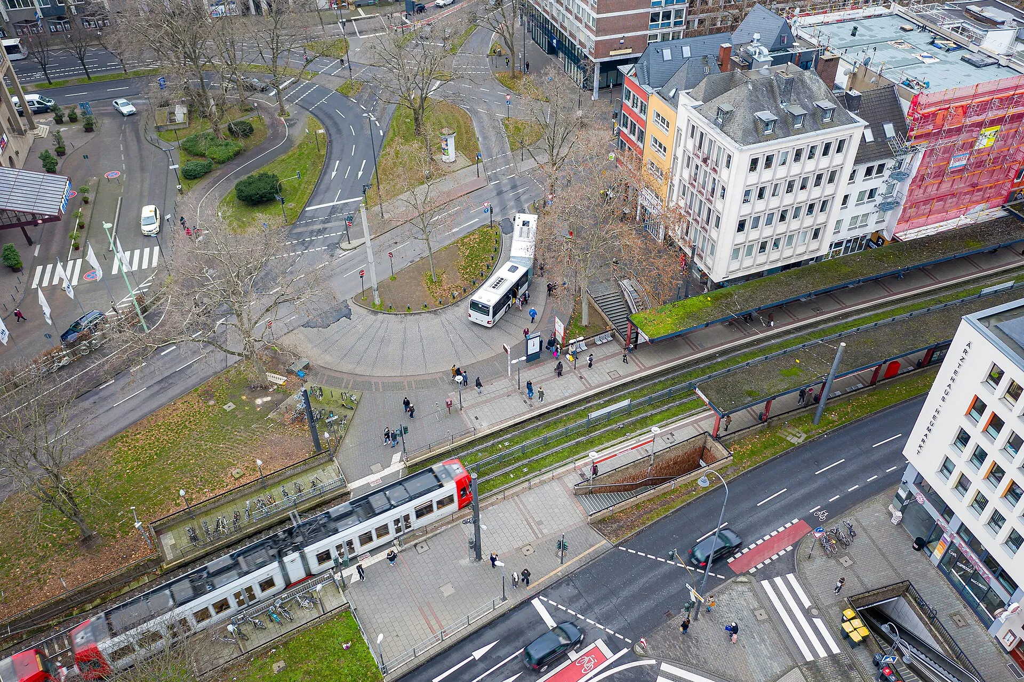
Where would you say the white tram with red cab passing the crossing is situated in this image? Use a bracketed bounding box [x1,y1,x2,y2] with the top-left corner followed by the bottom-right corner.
[53,461,478,682]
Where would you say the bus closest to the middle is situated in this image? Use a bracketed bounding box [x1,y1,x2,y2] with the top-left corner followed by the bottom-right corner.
[471,214,536,325]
